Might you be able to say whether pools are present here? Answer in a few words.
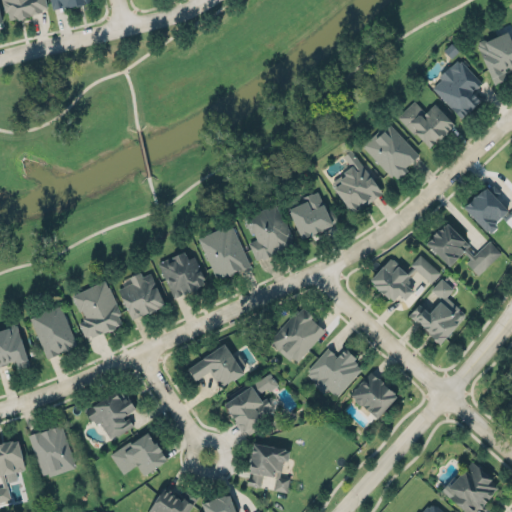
Yes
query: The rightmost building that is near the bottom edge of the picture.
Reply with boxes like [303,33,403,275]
[444,462,498,512]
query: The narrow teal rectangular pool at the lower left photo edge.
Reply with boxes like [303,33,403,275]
[9,480,28,505]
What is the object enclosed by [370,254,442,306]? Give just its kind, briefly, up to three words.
house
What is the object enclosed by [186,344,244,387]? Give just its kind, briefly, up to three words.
house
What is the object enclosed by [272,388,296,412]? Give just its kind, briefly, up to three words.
swimming pool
